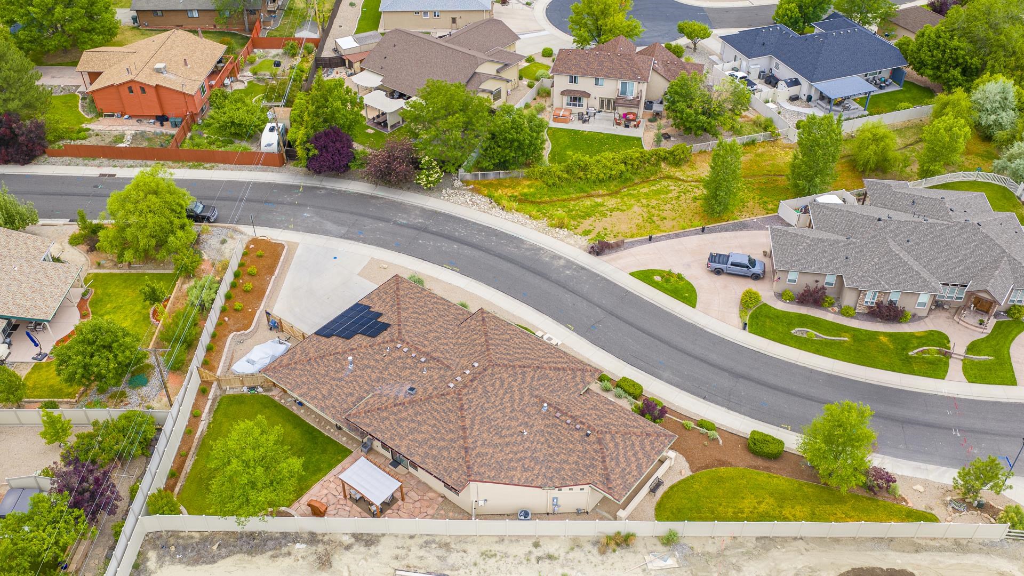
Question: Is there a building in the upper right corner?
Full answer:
Yes, a building shows up in the upper right corner.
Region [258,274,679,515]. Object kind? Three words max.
house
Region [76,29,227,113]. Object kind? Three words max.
house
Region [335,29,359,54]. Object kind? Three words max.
shed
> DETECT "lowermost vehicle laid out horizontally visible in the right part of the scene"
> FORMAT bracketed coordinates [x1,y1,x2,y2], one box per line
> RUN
[705,250,771,281]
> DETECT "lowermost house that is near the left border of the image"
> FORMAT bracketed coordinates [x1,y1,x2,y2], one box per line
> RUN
[0,225,83,340]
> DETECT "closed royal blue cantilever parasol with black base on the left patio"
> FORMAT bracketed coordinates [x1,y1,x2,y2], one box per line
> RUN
[17,327,44,360]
